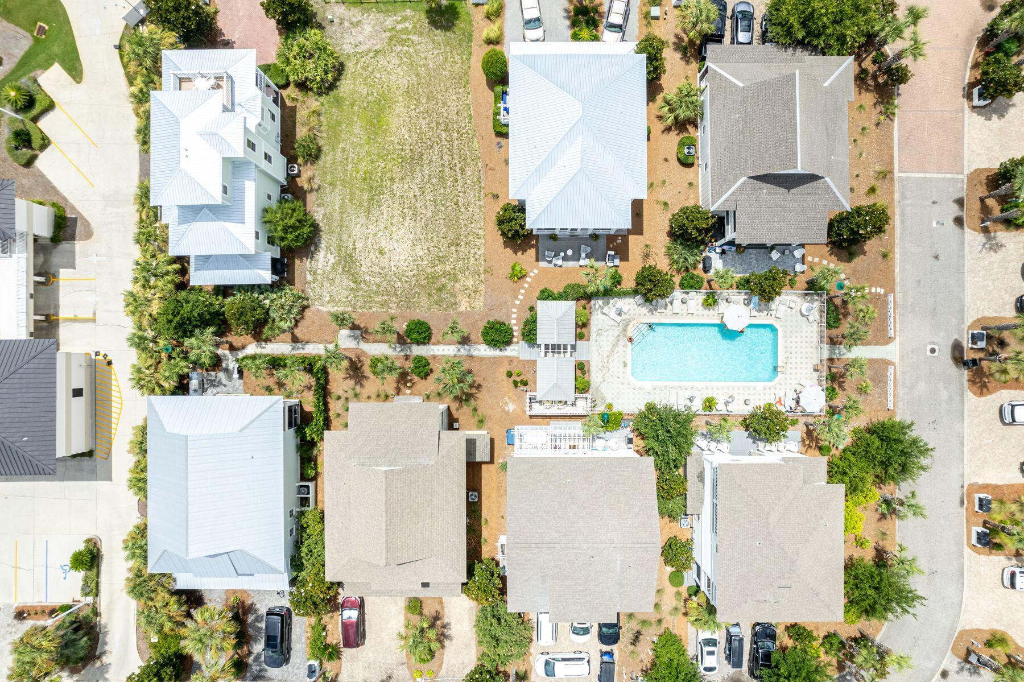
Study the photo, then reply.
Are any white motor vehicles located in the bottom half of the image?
Yes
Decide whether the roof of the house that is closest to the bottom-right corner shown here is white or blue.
white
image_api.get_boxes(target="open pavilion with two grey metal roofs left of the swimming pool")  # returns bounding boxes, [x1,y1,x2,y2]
[536,299,577,402]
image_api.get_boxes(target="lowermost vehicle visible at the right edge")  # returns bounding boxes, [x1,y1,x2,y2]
[1003,564,1024,587]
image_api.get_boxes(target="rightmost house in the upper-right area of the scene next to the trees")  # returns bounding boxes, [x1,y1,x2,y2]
[695,43,854,247]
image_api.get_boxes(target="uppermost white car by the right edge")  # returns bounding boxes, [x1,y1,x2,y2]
[999,401,1024,422]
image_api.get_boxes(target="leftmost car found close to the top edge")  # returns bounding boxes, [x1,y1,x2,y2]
[519,0,545,42]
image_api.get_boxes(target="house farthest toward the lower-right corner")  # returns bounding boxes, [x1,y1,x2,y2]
[680,448,845,622]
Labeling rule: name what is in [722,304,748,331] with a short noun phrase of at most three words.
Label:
umbrella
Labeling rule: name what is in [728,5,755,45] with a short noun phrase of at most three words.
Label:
car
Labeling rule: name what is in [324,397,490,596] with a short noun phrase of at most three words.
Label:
house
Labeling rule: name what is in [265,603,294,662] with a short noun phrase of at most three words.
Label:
car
